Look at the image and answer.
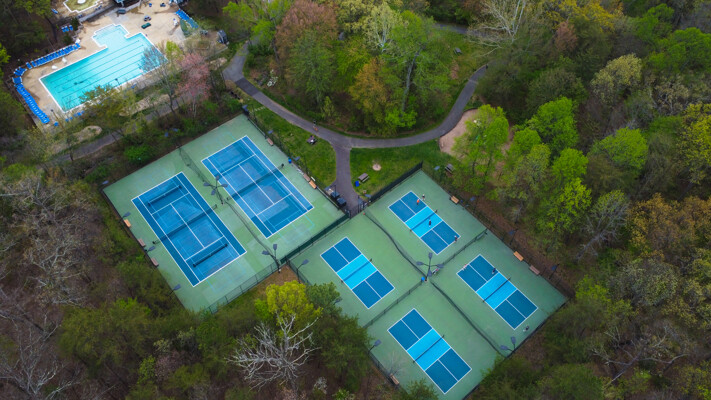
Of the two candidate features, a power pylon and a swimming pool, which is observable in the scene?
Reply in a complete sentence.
The one in the frame is a swimming pool.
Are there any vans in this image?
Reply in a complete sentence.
No, there's no van here.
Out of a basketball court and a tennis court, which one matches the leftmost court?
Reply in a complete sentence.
It turns out the leftmost court is a tennis court.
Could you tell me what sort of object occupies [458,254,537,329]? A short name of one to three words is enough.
sports court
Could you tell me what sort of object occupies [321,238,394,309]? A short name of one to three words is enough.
sports court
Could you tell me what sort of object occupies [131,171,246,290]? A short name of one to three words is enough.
tennis court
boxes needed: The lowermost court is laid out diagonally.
[387,308,471,394]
